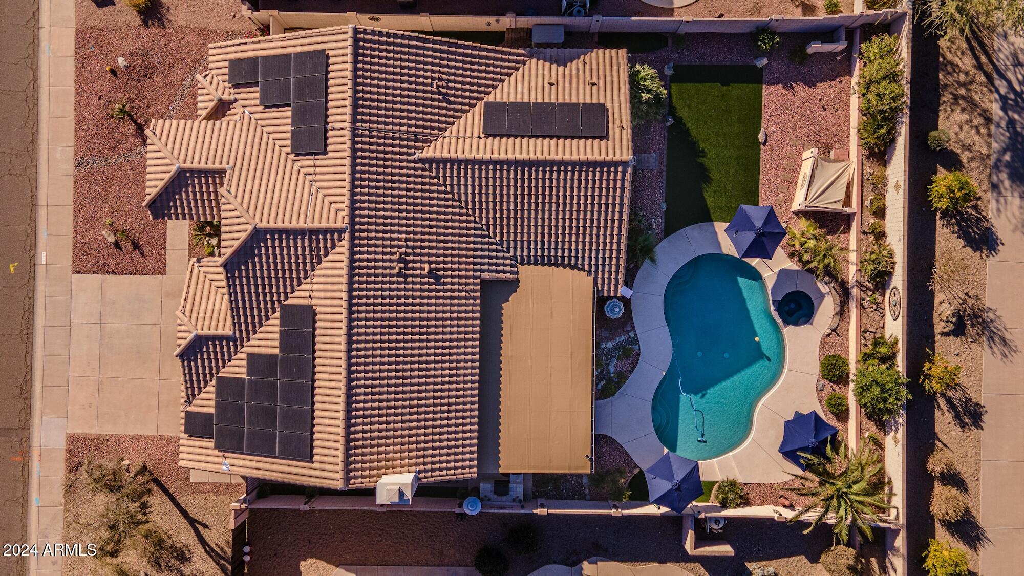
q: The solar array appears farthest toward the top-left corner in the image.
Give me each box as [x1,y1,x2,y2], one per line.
[228,50,326,154]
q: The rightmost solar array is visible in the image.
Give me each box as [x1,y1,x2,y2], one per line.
[483,101,606,136]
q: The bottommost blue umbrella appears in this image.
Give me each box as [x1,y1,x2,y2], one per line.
[643,449,701,512]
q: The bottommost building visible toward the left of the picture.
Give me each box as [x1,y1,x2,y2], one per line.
[141,22,636,505]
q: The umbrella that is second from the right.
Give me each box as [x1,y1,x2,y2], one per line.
[725,205,785,260]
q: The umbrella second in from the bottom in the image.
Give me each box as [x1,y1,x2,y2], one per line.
[777,407,831,467]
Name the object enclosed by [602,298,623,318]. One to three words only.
fountain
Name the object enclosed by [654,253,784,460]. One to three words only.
swimming pool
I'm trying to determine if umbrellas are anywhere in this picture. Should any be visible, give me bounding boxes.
[725,205,785,260]
[777,407,831,467]
[643,449,701,512]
